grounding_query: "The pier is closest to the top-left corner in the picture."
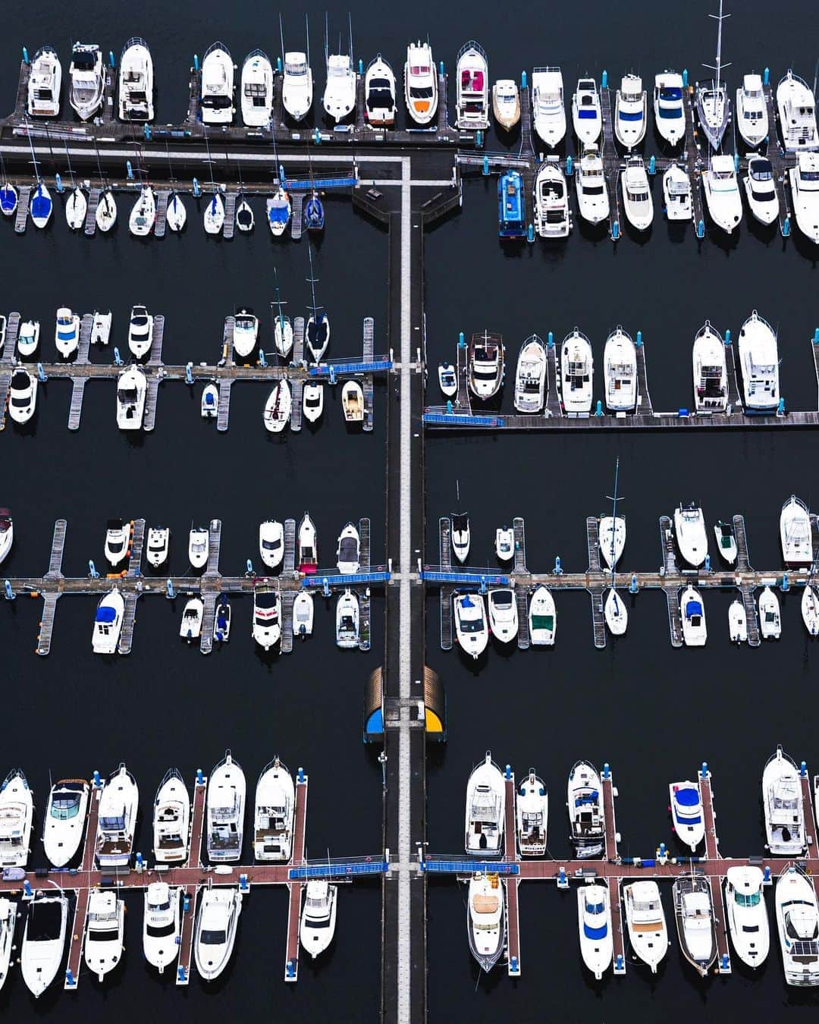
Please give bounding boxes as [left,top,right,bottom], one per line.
[11,61,30,123]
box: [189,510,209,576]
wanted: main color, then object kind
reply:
white boat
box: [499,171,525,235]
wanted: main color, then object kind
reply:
blue ship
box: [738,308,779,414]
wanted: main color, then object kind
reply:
white boat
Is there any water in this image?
Yes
